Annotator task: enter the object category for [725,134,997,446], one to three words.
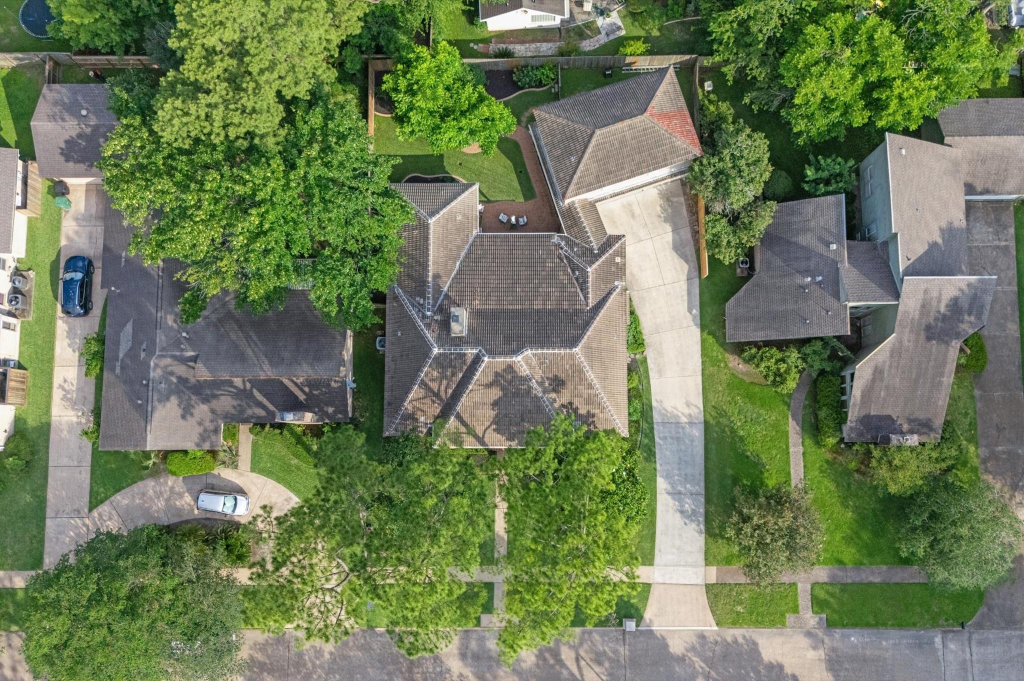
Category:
house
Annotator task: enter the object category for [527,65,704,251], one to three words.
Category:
building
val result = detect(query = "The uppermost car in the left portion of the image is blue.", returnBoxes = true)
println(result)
[56,256,93,316]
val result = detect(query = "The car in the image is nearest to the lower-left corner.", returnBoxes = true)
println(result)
[193,487,249,518]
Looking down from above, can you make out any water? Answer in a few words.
No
